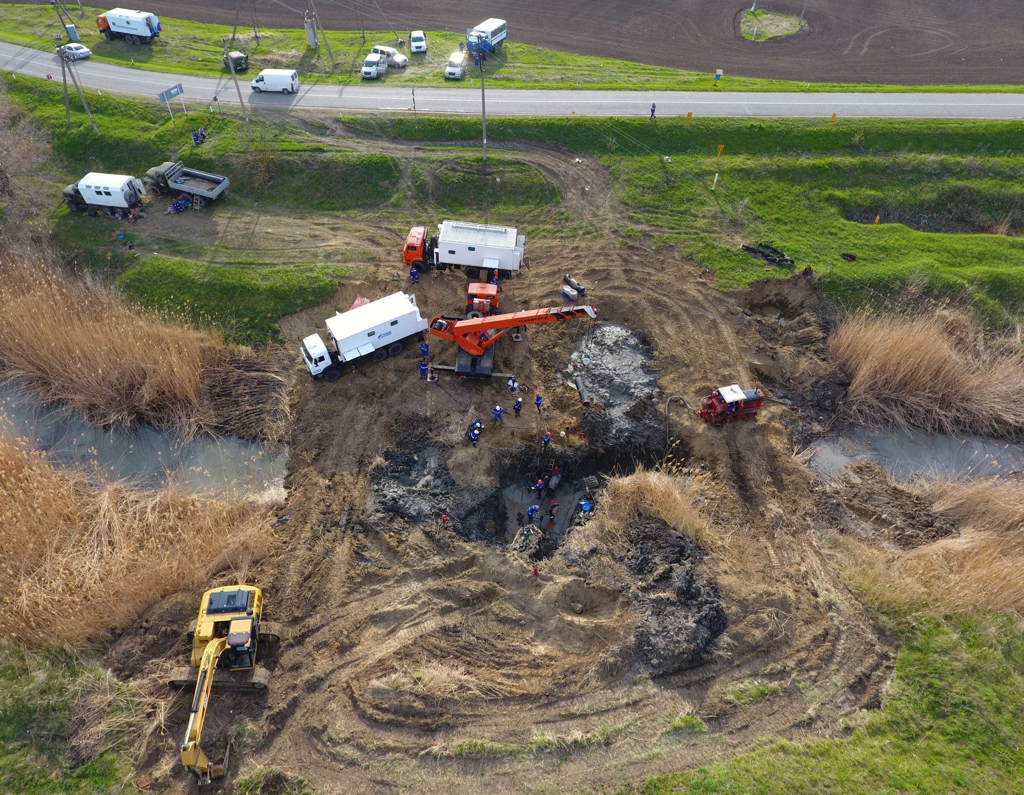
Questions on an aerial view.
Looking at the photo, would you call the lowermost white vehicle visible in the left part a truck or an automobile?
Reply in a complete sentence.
What you see as the lowermost white vehicle visible in the left part is a truck.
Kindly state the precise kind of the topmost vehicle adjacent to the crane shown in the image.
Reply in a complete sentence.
Specifically, the topmost vehicle adjacent to the crane is a truck.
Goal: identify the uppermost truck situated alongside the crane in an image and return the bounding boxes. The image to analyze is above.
[400,217,531,281]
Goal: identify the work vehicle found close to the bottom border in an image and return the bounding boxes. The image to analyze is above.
[170,587,287,782]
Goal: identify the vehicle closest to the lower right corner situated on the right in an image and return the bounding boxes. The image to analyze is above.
[698,383,768,435]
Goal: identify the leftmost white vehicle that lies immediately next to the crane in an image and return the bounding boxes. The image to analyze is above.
[294,289,425,383]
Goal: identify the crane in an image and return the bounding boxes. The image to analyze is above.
[424,280,600,393]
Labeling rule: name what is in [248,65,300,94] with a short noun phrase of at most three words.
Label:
van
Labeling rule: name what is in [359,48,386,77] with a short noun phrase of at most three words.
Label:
car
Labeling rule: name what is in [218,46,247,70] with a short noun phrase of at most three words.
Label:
car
